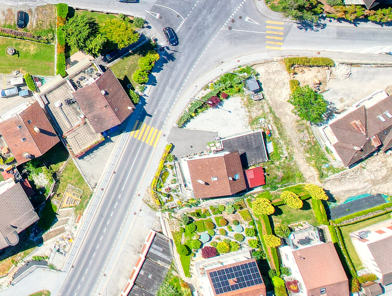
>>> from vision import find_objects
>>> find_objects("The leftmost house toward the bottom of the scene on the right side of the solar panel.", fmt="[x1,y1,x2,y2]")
[282,222,350,296]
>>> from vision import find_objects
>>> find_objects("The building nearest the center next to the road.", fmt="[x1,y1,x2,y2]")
[178,129,266,198]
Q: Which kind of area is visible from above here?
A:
residential area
